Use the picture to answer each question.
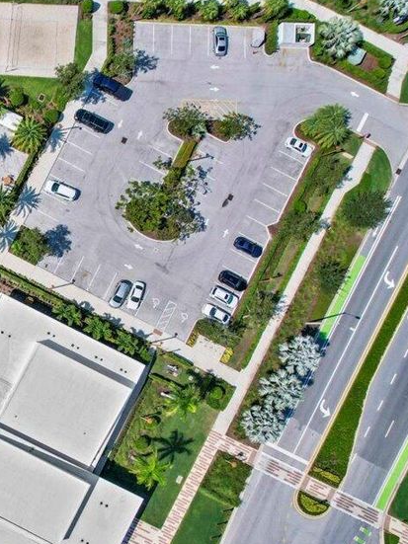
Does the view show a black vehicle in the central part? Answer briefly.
Yes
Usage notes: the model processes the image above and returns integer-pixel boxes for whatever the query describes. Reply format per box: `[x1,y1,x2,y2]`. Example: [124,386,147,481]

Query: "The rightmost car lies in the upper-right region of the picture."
[283,135,313,155]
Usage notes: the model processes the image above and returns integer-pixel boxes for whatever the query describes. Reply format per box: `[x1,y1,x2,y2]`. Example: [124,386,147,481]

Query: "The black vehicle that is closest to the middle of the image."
[218,268,248,291]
